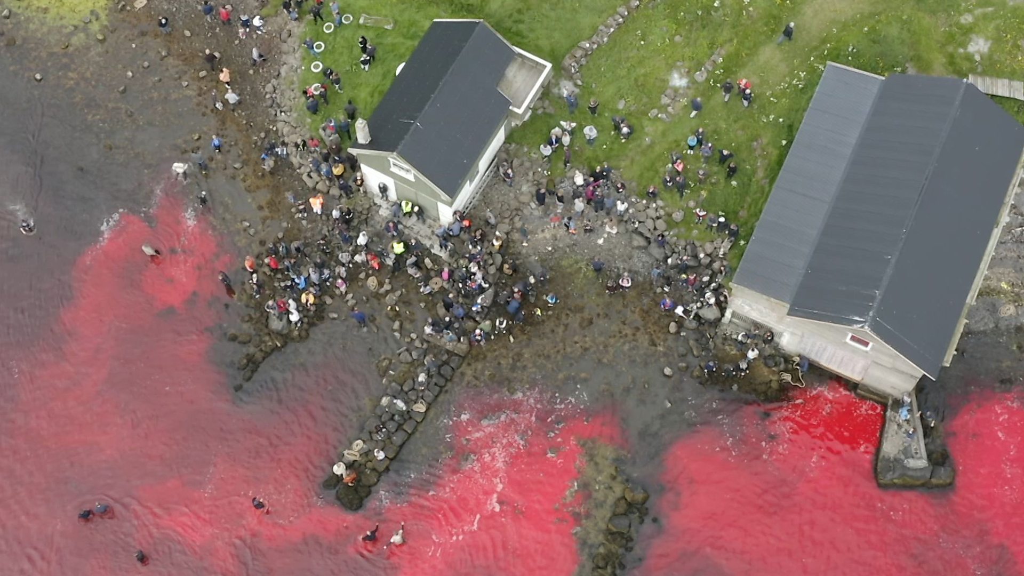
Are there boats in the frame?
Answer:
No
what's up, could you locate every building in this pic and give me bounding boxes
[347,17,554,225]
[719,61,1024,406]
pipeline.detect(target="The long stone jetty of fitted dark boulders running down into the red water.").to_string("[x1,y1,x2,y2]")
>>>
[327,322,469,512]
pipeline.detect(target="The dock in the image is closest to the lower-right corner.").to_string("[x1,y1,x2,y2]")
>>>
[875,396,954,489]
